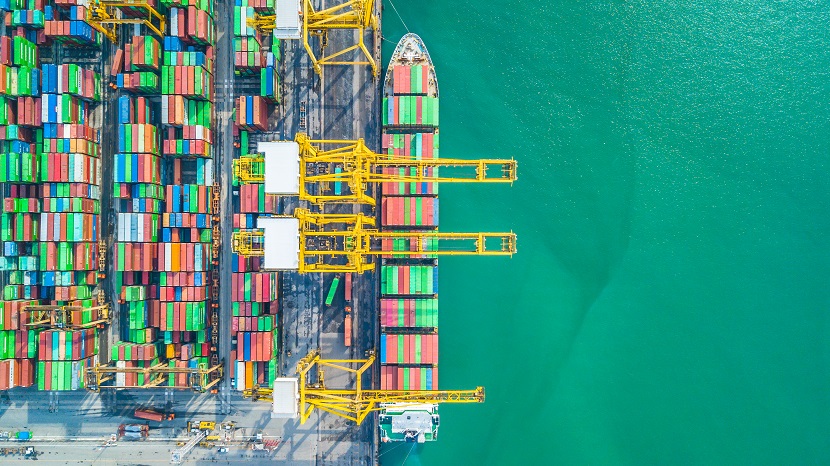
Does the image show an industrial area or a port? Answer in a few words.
port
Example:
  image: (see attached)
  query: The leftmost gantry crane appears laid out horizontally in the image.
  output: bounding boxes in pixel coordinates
[19,297,110,328]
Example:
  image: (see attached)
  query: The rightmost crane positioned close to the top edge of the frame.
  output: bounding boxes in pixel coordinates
[239,0,386,86]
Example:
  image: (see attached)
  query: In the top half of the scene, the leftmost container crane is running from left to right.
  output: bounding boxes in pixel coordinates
[89,1,172,41]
